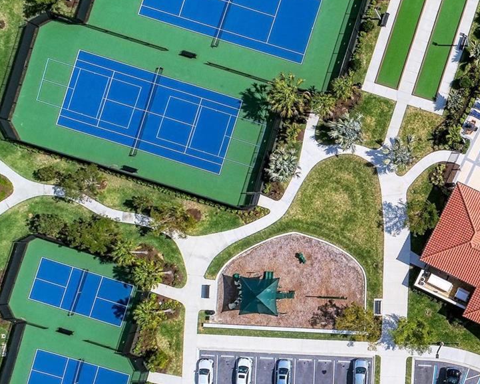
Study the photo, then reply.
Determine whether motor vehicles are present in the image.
Yes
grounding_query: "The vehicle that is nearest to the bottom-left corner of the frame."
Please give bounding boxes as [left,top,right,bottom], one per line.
[196,357,214,384]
